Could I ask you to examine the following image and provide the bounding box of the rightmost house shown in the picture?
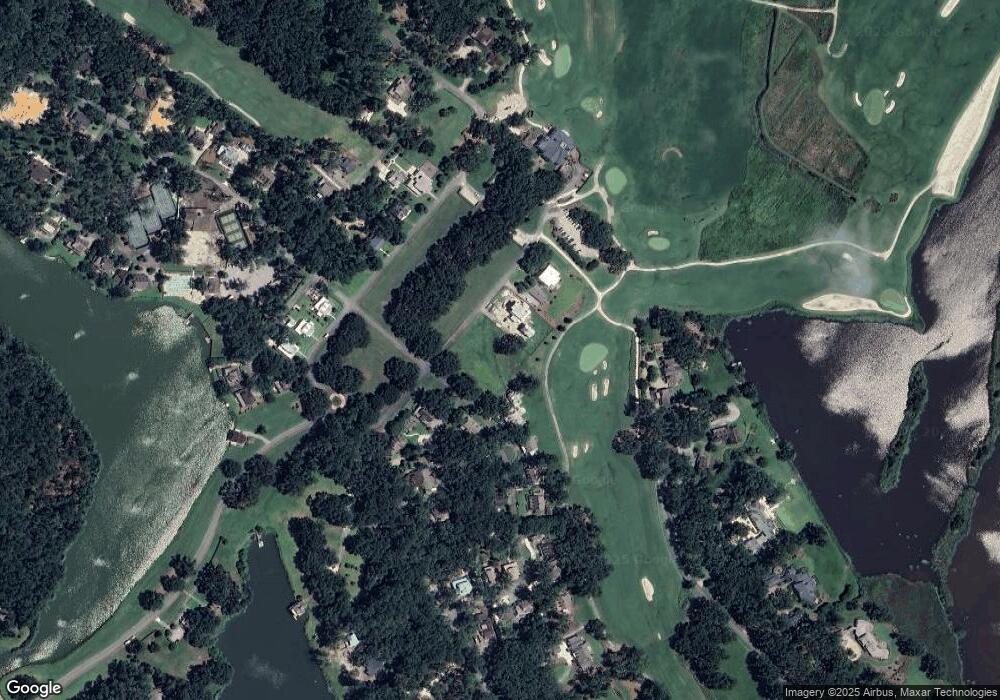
[853,618,893,662]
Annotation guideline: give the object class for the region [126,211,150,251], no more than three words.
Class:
tennis court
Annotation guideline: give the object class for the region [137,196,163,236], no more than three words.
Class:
tennis court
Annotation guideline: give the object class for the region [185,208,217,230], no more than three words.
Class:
building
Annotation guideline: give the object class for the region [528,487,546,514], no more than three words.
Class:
house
